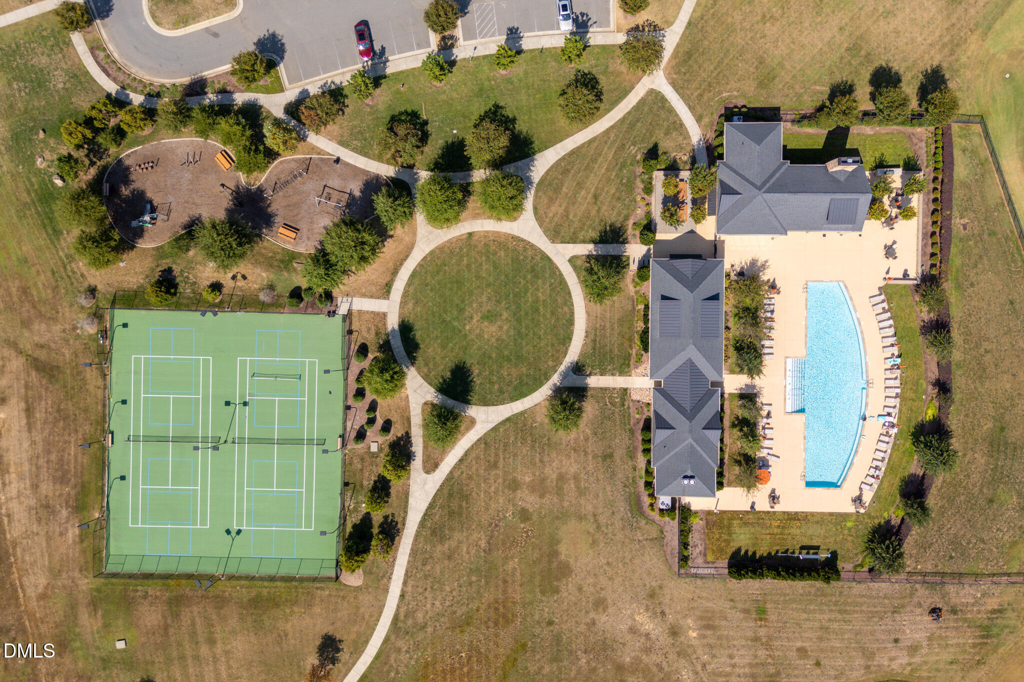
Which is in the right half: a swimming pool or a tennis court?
swimming pool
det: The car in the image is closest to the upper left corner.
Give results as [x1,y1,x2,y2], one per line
[354,23,372,60]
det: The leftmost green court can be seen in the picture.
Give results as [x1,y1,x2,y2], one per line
[105,310,226,574]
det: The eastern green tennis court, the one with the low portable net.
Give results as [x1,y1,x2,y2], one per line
[221,313,346,576]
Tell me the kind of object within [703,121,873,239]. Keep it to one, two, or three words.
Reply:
building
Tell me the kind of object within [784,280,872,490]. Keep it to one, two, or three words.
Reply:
swimming pool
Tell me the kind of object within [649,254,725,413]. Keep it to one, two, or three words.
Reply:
building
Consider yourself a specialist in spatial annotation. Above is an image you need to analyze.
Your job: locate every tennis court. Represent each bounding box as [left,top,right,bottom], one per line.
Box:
[105,310,226,574]
[221,313,346,576]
